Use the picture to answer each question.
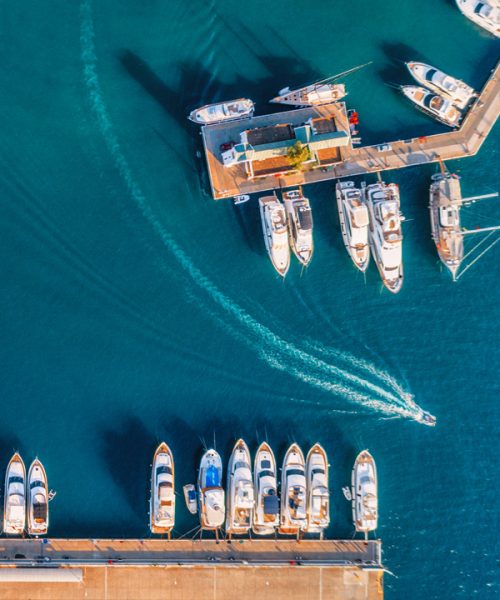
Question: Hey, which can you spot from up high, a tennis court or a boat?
boat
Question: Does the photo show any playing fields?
No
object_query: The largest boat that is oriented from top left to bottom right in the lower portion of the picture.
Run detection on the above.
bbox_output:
[420,411,436,423]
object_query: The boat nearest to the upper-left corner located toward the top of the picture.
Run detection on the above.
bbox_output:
[188,96,254,127]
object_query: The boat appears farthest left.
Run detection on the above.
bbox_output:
[2,439,27,541]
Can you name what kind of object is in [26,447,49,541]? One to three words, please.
boat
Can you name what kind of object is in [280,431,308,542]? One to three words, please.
boat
